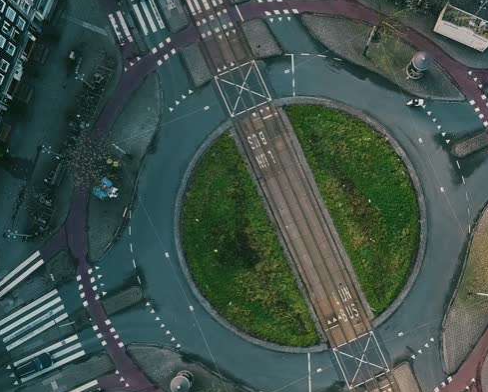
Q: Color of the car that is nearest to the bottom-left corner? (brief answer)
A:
black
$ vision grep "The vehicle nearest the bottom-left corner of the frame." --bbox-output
[10,352,52,380]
